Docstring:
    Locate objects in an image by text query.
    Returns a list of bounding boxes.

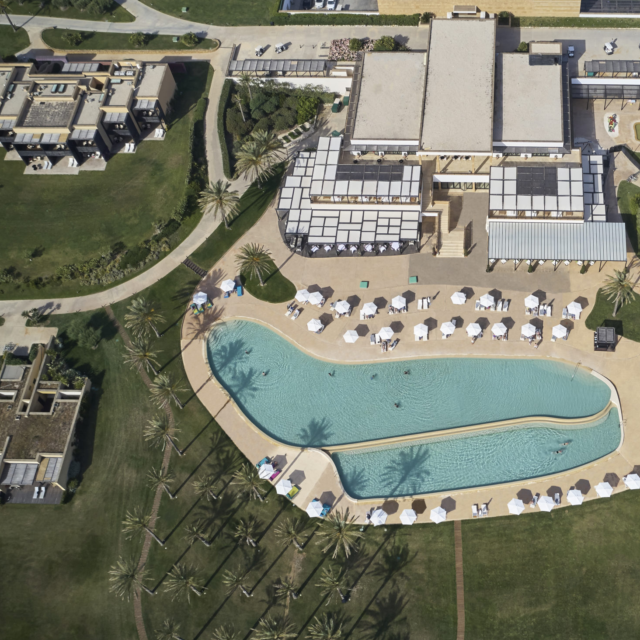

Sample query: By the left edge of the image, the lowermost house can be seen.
[0,335,97,493]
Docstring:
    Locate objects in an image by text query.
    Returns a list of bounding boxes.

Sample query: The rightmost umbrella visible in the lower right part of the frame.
[625,474,640,491]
